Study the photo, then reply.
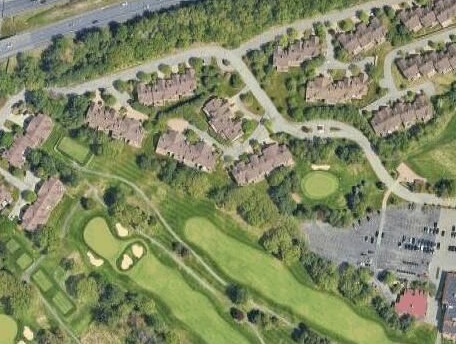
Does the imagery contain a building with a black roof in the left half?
No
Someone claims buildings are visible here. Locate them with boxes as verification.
[307,75,369,105]
[438,267,456,344]
[159,133,216,169]
[233,141,295,188]
[275,37,323,72]
[396,288,428,320]
[401,0,456,36]
[373,91,435,141]
[340,18,389,59]
[398,41,456,86]
[138,70,197,108]
[5,113,54,170]
[87,105,145,144]
[0,184,16,216]
[201,100,247,143]
[23,177,65,233]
